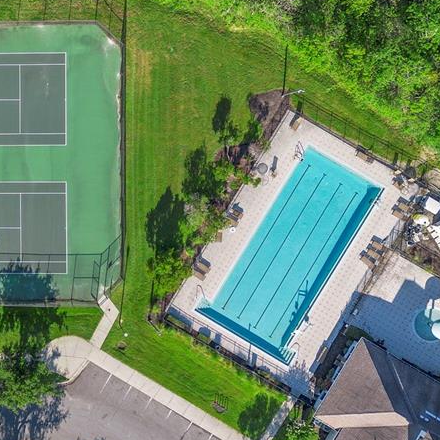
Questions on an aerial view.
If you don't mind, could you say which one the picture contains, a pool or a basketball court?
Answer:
pool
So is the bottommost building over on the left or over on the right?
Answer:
right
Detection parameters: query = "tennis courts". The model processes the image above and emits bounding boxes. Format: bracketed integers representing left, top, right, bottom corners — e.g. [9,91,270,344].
[0,53,67,146]
[0,182,67,274]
